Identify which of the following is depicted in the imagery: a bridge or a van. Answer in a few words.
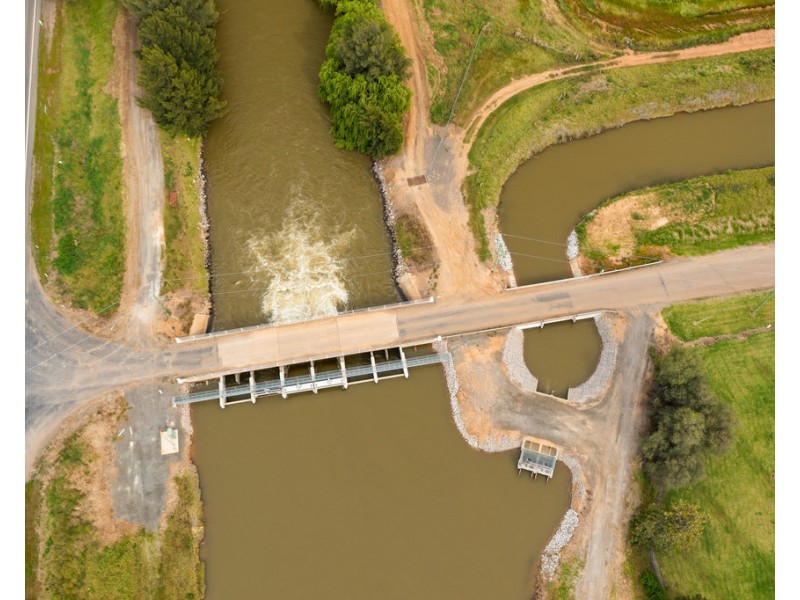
bridge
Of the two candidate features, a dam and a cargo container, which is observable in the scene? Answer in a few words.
dam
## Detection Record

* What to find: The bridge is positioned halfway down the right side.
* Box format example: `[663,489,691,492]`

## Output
[505,254,662,335]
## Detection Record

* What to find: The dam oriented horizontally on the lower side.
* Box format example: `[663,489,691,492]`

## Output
[220,346,409,412]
